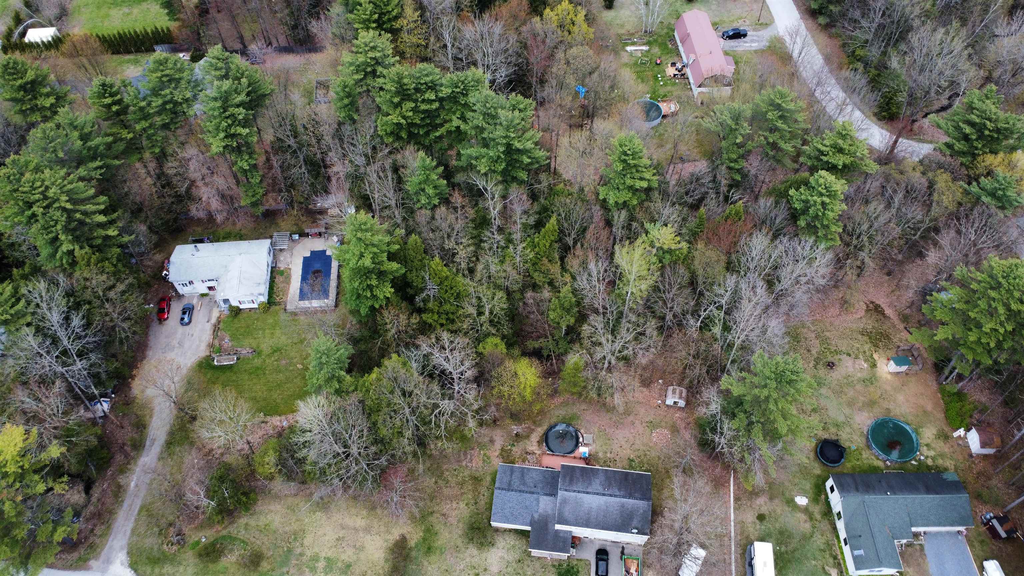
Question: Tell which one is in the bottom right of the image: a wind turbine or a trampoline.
trampoline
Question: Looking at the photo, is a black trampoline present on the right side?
Yes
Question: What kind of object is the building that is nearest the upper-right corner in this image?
house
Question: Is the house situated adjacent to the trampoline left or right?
right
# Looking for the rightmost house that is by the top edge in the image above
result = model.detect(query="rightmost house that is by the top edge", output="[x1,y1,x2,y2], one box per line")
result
[676,9,737,98]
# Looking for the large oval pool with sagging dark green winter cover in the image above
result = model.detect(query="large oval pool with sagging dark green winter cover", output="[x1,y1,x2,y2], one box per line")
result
[867,420,918,460]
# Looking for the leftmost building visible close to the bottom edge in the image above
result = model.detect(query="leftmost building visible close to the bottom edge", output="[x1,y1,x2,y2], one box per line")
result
[490,463,653,559]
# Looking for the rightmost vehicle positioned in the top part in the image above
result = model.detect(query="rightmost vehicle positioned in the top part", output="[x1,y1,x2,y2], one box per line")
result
[721,29,749,41]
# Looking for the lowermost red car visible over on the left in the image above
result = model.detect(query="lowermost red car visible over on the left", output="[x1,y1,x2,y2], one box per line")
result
[156,296,172,321]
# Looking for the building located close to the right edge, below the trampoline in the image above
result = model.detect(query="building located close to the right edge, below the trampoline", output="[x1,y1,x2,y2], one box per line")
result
[825,470,977,574]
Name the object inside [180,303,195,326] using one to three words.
car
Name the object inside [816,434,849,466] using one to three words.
trampoline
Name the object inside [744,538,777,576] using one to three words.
vehicle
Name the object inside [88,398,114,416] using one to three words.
vehicle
